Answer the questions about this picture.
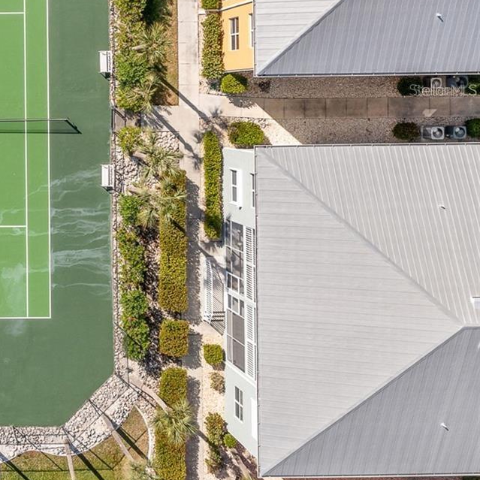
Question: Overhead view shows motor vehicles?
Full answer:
No, no motor vehicle is visible in the scene.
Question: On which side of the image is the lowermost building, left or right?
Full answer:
The lowermost building appears in the right half of the scene.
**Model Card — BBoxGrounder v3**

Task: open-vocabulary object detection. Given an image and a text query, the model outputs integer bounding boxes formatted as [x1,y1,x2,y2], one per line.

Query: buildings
[217,0,480,74]
[195,142,480,475]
